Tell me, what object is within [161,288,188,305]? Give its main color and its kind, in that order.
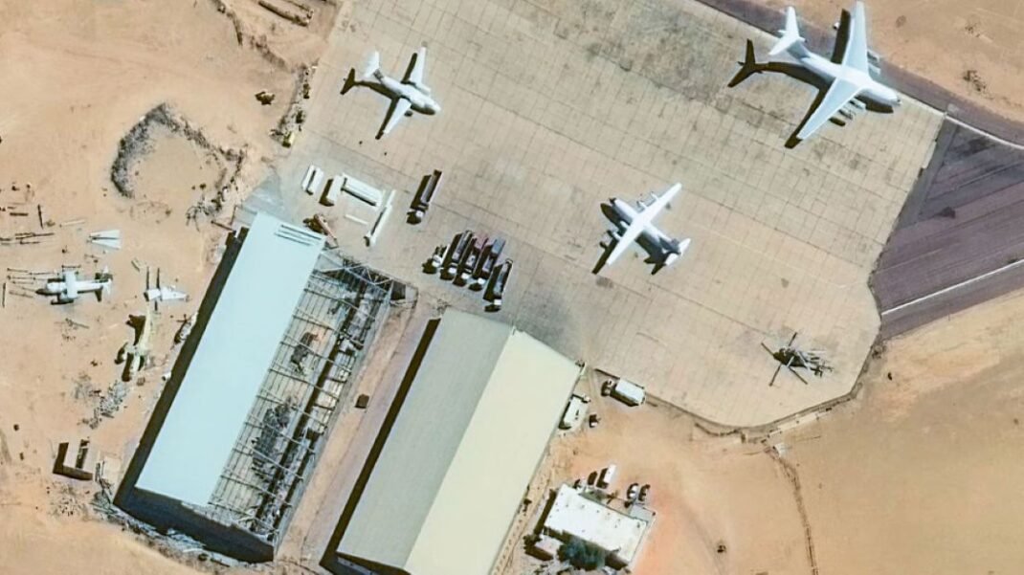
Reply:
white airplane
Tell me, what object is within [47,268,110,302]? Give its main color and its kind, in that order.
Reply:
white airplane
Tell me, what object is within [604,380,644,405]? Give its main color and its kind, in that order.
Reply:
white truck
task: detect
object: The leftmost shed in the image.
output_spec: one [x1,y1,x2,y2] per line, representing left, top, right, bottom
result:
[64,437,100,481]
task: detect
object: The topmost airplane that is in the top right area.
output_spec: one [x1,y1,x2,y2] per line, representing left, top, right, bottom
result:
[767,2,899,138]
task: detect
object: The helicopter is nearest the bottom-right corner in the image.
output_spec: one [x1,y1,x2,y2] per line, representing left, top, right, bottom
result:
[769,328,830,382]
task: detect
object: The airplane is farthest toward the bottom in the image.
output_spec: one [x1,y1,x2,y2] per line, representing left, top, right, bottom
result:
[123,304,149,381]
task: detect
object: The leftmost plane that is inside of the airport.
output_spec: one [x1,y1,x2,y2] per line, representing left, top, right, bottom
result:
[362,46,441,132]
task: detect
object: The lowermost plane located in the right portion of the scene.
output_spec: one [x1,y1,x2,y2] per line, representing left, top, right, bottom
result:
[608,183,688,268]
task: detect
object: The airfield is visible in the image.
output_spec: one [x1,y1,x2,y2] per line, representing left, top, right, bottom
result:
[232,0,1024,428]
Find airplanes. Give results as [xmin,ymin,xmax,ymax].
[767,2,899,138]
[362,46,441,132]
[47,268,110,302]
[123,304,149,381]
[161,288,188,305]
[608,183,688,268]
